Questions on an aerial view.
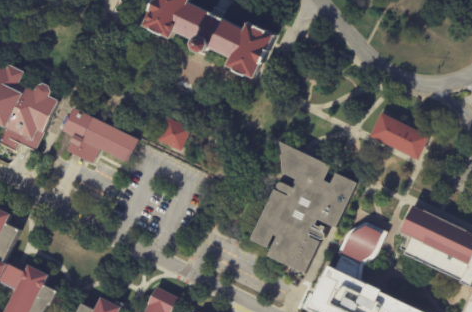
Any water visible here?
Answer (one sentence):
No, there is no water in the image.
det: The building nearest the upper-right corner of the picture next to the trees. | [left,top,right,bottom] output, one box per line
[370,110,431,162]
